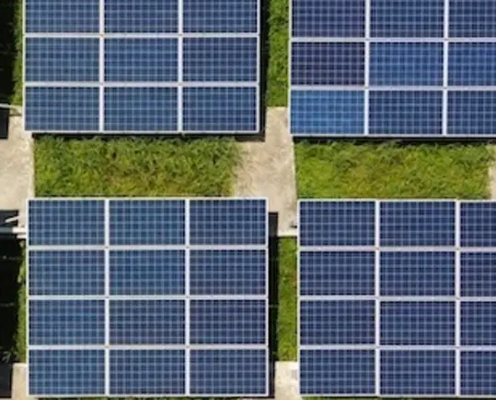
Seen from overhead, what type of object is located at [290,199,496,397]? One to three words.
solar array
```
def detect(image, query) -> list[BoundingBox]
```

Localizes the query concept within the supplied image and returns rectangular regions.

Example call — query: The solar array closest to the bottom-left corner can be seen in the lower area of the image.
[26,198,268,397]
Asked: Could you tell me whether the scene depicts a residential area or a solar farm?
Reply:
solar farm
